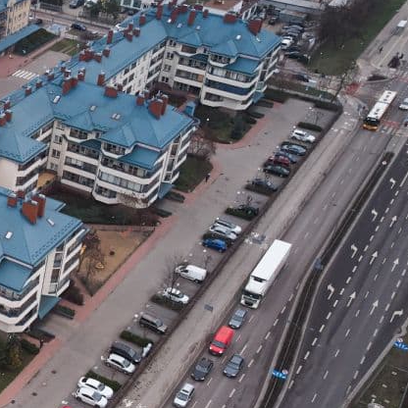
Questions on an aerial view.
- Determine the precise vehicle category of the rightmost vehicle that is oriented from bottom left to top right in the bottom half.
truck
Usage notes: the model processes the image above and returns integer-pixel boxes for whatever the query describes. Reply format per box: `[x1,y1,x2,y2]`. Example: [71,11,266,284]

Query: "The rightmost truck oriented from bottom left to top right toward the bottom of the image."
[244,237,299,305]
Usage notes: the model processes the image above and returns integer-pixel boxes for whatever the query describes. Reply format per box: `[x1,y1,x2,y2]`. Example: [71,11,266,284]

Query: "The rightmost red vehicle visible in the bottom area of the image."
[210,325,233,351]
